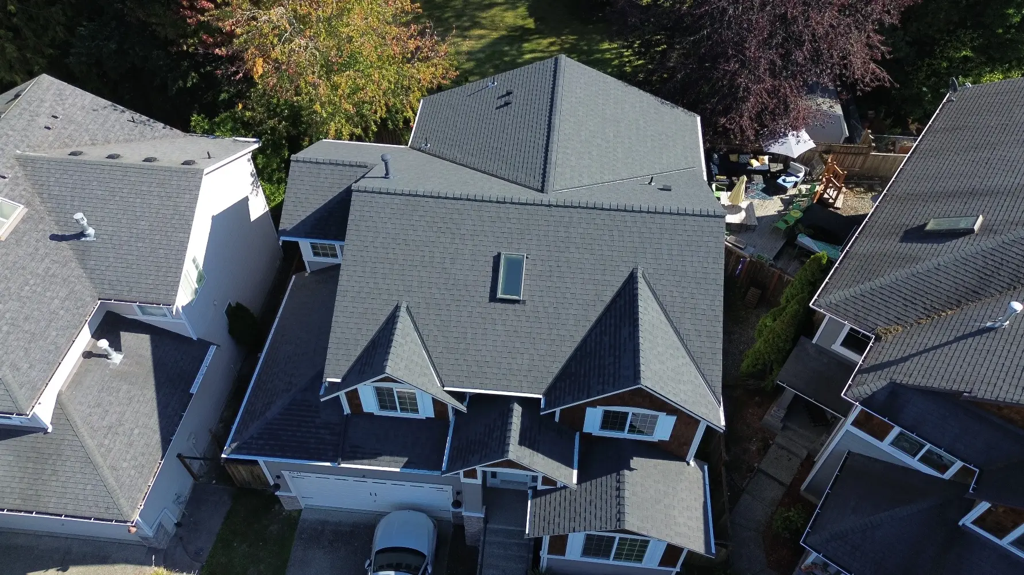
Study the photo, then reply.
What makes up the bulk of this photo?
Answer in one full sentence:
The largest share of the image is taken up by buildings.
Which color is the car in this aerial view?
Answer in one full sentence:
In this view, the car is blue.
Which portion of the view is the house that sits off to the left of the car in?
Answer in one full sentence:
The house that sits off to the left of the car is located in the left region of the scene.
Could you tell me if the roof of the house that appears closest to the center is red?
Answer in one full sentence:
No, the color of the roof of the house that appears closest to the center is gray.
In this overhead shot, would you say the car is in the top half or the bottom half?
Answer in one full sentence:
Seen from above, the car lies in the bottom half of the view.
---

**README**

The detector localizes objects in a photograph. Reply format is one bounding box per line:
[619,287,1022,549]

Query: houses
[219,53,729,575]
[0,70,288,551]
[772,80,1024,575]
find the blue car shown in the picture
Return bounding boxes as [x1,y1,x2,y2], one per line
[362,513,440,575]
